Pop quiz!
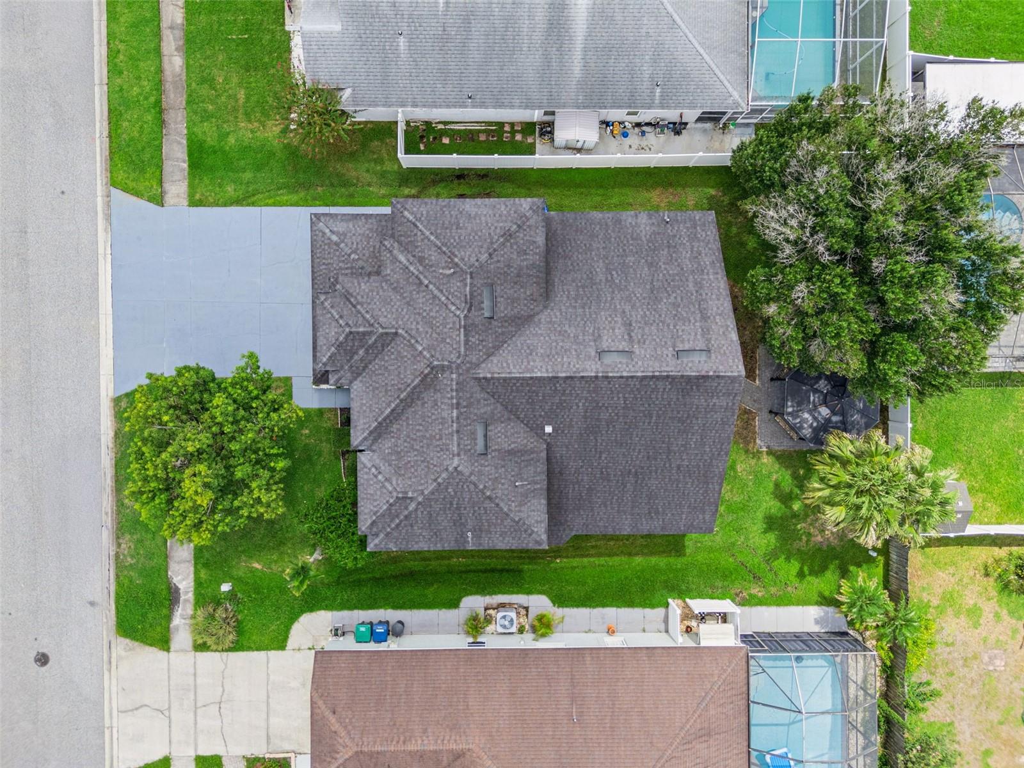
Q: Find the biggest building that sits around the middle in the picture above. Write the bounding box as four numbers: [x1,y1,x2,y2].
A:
[309,196,746,551]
